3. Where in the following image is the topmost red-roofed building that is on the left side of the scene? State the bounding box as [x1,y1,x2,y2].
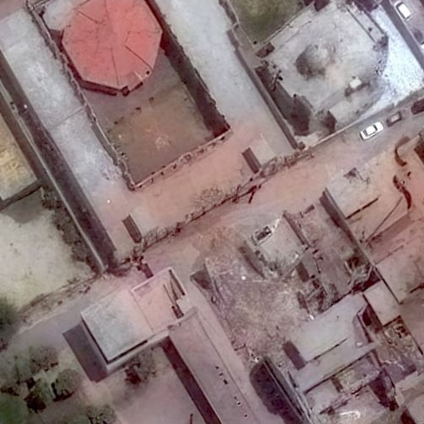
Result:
[62,0,162,93]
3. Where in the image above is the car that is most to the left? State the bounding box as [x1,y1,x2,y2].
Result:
[359,122,384,140]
